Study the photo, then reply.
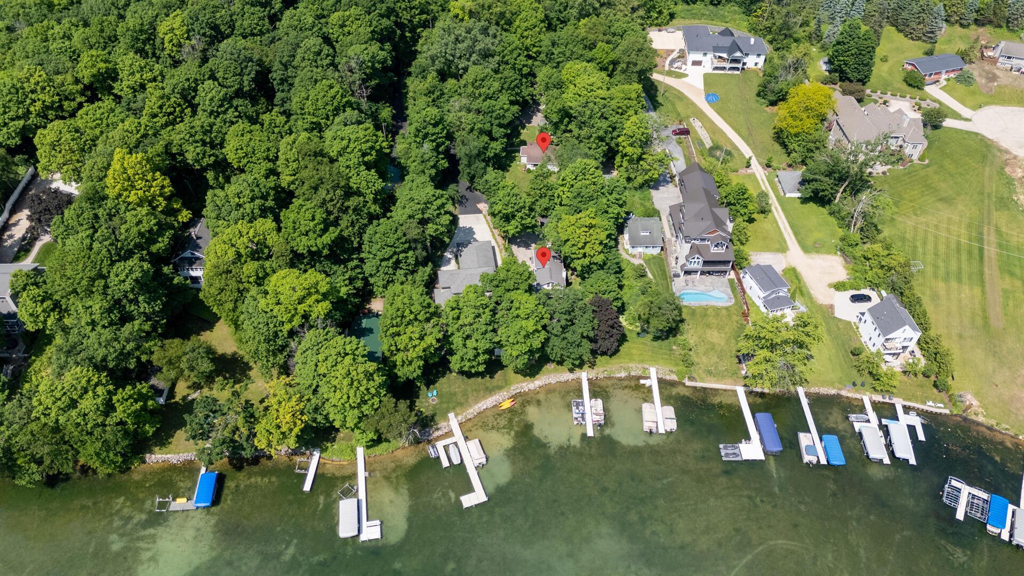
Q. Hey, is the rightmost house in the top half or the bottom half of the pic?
top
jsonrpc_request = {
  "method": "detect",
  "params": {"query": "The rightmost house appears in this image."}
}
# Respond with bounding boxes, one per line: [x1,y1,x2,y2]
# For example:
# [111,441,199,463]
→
[972,38,1024,77]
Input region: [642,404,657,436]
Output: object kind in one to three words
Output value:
boat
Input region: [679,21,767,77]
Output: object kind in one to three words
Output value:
house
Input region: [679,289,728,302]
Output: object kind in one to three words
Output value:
swimming pool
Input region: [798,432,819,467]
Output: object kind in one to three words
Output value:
boat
